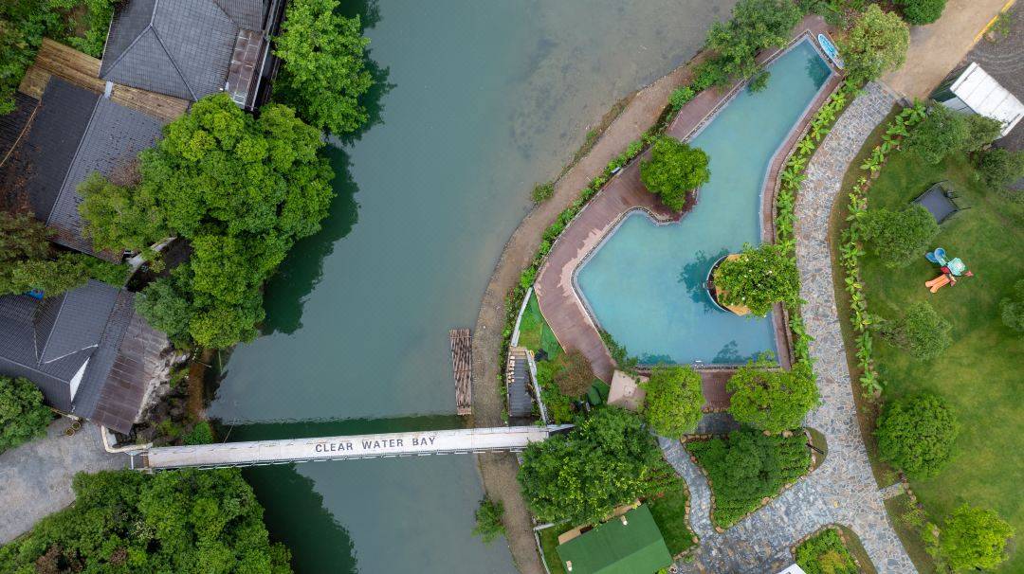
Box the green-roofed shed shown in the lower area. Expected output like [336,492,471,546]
[556,496,681,574]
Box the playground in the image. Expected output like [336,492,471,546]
[925,247,977,293]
